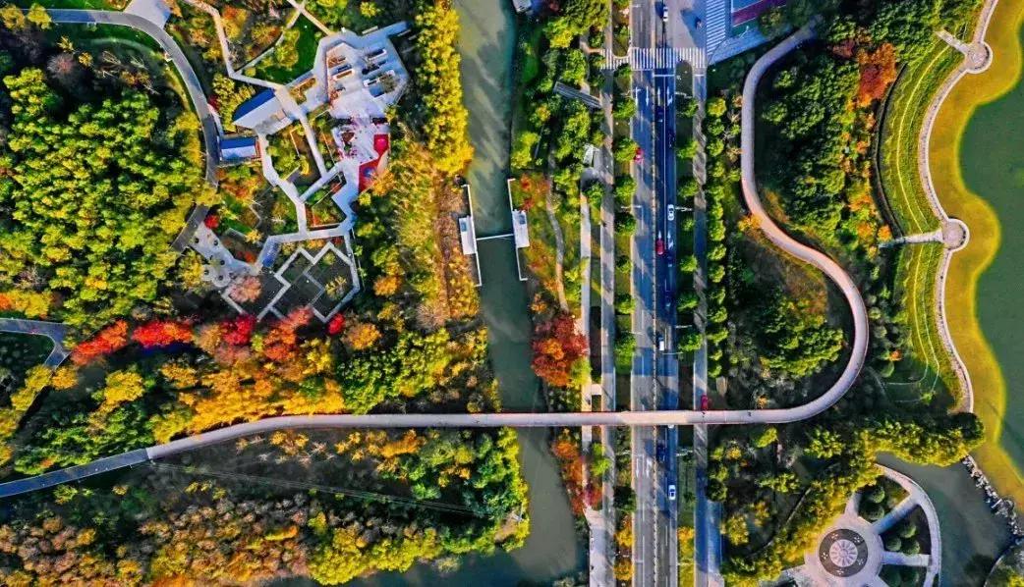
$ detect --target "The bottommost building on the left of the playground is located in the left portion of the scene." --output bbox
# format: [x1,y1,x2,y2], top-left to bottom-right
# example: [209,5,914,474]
[220,136,261,162]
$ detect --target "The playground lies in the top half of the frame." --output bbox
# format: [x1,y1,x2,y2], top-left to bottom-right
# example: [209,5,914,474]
[360,134,390,192]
